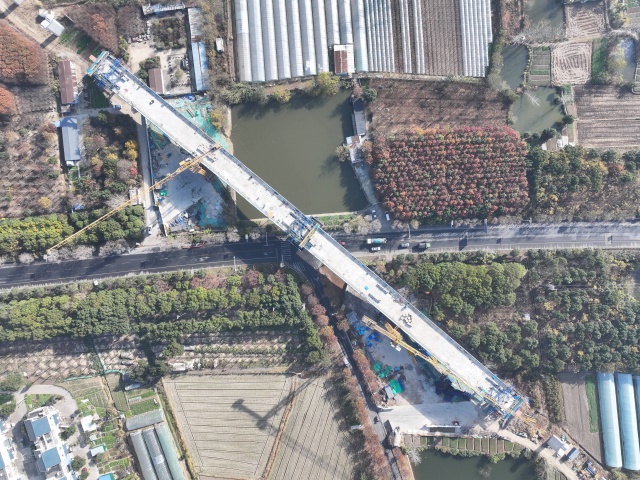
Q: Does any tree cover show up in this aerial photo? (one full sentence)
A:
Yes, the picture does contain tree cover.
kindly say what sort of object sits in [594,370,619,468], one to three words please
greenhouse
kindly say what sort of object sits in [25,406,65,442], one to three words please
house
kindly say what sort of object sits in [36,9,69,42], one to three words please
building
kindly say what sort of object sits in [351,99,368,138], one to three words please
shed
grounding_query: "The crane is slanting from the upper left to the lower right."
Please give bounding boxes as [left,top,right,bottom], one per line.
[362,311,507,413]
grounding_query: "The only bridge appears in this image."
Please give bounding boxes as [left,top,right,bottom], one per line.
[93,53,521,416]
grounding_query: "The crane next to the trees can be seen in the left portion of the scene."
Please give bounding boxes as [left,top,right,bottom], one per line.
[46,142,226,254]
